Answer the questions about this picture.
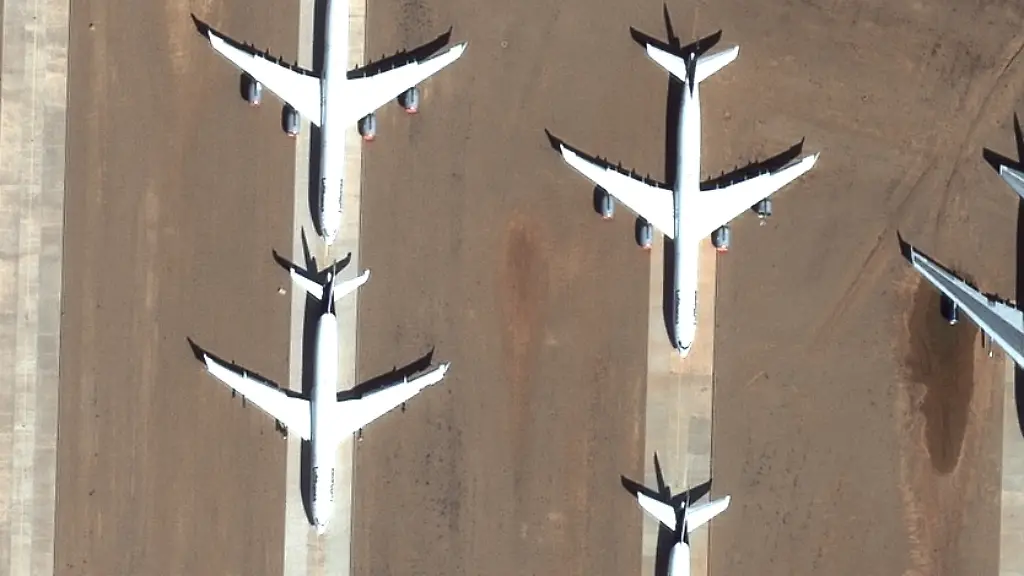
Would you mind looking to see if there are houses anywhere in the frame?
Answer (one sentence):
No, I can't see a single house in this photo.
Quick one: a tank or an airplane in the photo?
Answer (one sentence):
Visible in the photo is an airplane.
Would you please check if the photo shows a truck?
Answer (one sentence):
No, there appears to be no truck in this shot.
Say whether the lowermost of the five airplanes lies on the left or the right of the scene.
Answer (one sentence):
The lowermost of the five airplanes sits on the right side.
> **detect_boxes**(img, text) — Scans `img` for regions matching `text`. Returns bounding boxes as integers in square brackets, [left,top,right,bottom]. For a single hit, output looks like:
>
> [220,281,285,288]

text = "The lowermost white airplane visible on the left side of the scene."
[204,263,449,535]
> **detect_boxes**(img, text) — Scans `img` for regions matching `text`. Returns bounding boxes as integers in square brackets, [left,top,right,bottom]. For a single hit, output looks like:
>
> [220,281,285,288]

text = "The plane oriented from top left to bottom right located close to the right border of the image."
[912,245,1024,369]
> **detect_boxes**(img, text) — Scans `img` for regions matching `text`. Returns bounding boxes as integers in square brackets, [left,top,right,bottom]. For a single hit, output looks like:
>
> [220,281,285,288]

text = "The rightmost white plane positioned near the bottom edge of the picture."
[640,487,731,576]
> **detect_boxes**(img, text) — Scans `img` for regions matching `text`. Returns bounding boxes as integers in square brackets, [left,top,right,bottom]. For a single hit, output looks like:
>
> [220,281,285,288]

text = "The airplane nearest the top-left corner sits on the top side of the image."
[208,0,466,244]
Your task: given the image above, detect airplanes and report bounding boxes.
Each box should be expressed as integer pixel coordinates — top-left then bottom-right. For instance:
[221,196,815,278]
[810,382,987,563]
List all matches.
[208,0,466,244]
[912,245,1024,369]
[640,487,731,576]
[562,38,819,358]
[204,263,449,535]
